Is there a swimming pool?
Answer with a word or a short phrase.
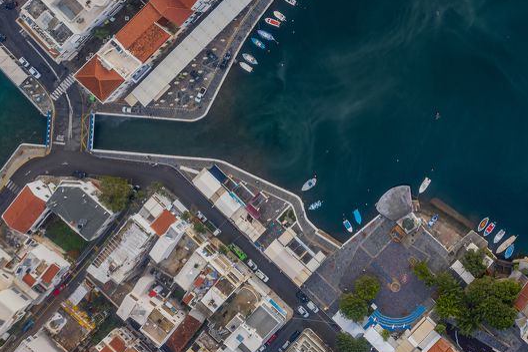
No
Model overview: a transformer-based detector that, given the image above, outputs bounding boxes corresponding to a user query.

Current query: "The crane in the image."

[58,298,98,330]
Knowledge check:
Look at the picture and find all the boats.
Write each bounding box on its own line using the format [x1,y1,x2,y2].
[285,0,298,8]
[252,38,266,51]
[354,208,362,225]
[427,214,438,228]
[242,53,260,66]
[265,18,282,28]
[492,229,505,243]
[258,30,276,42]
[504,243,513,258]
[342,218,352,232]
[239,62,255,74]
[302,176,318,191]
[419,176,431,194]
[274,12,287,22]
[495,238,515,255]
[483,222,495,237]
[309,198,323,209]
[477,217,489,232]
